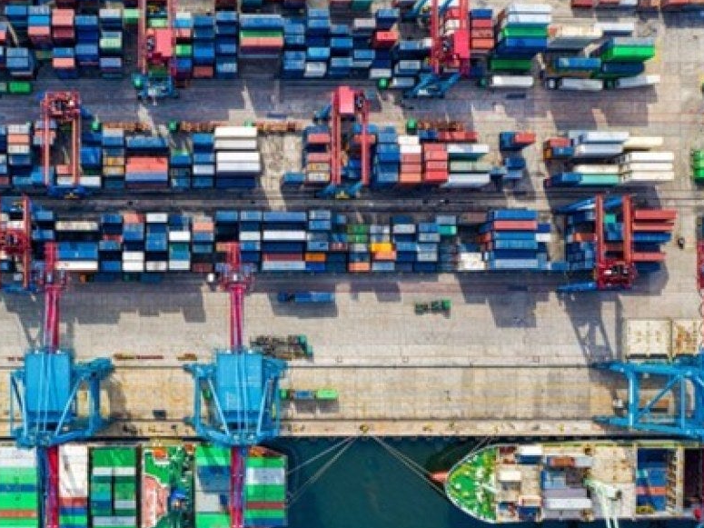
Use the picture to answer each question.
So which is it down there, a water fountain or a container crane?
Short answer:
container crane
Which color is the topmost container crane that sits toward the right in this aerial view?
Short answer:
red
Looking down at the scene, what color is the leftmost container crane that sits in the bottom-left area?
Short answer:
blue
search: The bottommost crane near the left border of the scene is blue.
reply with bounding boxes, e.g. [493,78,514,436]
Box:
[10,242,114,528]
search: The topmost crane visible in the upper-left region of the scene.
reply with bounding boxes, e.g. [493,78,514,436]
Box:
[136,0,180,99]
